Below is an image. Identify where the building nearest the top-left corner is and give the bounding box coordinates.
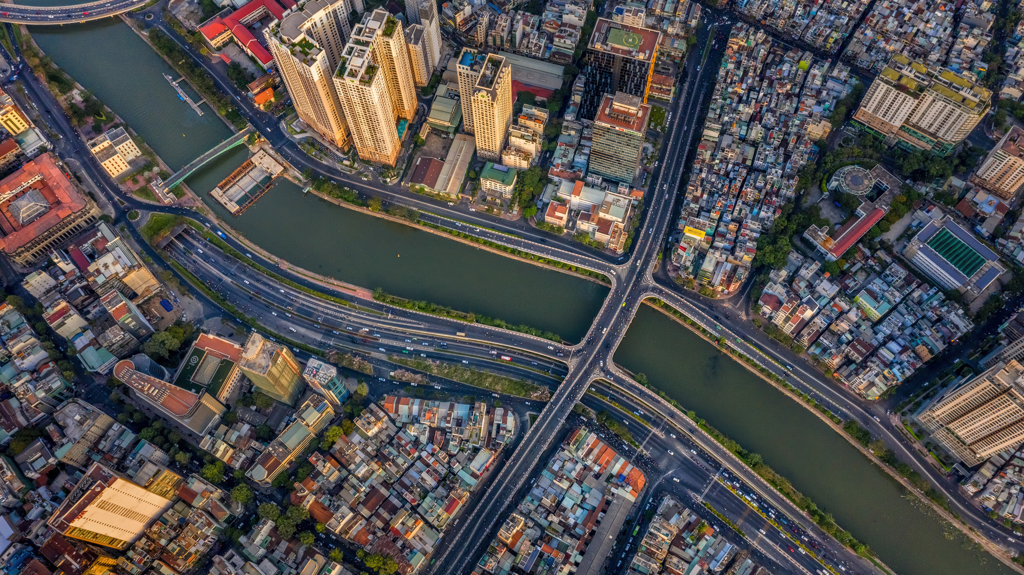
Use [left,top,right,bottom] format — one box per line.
[0,88,31,139]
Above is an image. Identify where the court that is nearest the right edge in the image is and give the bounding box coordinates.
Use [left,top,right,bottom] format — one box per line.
[928,228,986,277]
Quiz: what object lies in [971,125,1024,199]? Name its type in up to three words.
building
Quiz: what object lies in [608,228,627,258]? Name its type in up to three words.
house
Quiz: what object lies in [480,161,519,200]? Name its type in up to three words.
house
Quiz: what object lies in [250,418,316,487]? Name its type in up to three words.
building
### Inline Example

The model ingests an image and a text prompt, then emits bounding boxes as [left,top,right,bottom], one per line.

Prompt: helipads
[606,27,643,50]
